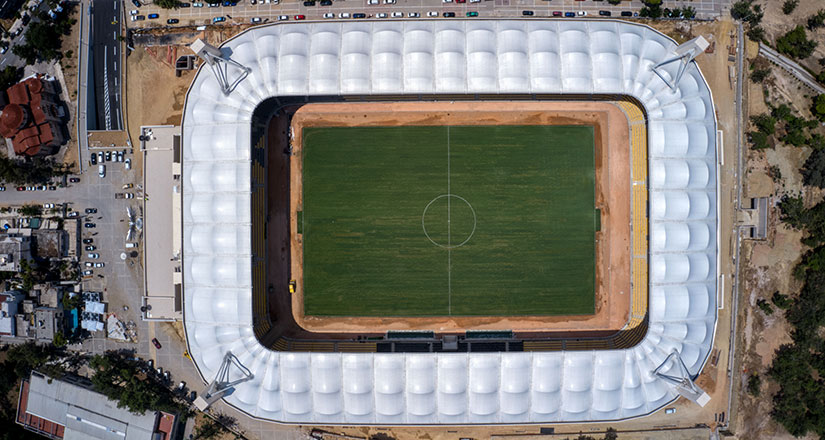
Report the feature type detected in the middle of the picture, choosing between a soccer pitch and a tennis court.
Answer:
soccer pitch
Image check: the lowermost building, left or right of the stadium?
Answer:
on the left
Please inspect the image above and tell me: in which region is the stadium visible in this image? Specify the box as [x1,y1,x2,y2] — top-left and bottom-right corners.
[180,19,720,427]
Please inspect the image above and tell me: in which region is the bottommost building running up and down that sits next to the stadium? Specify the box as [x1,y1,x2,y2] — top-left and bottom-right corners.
[139,125,180,321]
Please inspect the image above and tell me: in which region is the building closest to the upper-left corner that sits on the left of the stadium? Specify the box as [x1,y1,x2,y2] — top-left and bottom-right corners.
[0,67,70,159]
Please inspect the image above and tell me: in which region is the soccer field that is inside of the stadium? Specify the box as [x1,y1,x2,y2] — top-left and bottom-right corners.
[296,123,601,319]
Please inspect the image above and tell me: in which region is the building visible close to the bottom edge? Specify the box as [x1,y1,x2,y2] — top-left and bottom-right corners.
[12,363,187,440]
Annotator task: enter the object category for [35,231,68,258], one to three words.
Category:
house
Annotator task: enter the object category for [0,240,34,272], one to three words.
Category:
house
